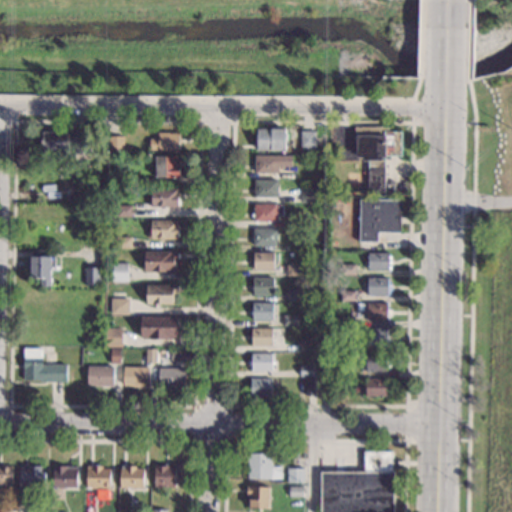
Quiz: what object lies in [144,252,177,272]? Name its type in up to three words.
house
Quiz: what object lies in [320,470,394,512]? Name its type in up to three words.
building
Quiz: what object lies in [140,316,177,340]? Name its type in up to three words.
house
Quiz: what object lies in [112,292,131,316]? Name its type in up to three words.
building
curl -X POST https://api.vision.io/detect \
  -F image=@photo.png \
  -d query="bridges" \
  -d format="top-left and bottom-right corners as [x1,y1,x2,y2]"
[418,0,477,80]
